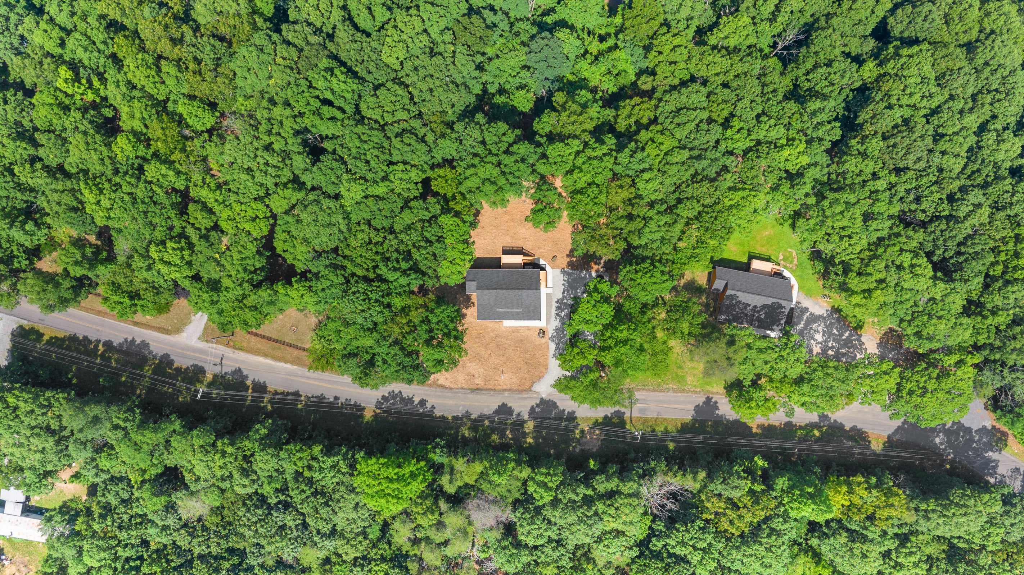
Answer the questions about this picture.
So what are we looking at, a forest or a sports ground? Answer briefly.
forest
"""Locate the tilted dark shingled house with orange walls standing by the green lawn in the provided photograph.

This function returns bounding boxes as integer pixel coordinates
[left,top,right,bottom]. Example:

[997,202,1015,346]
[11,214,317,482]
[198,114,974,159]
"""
[708,258,792,331]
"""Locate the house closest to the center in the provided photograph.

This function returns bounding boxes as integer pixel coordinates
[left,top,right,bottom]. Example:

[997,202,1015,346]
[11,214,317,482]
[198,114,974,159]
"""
[465,254,547,321]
